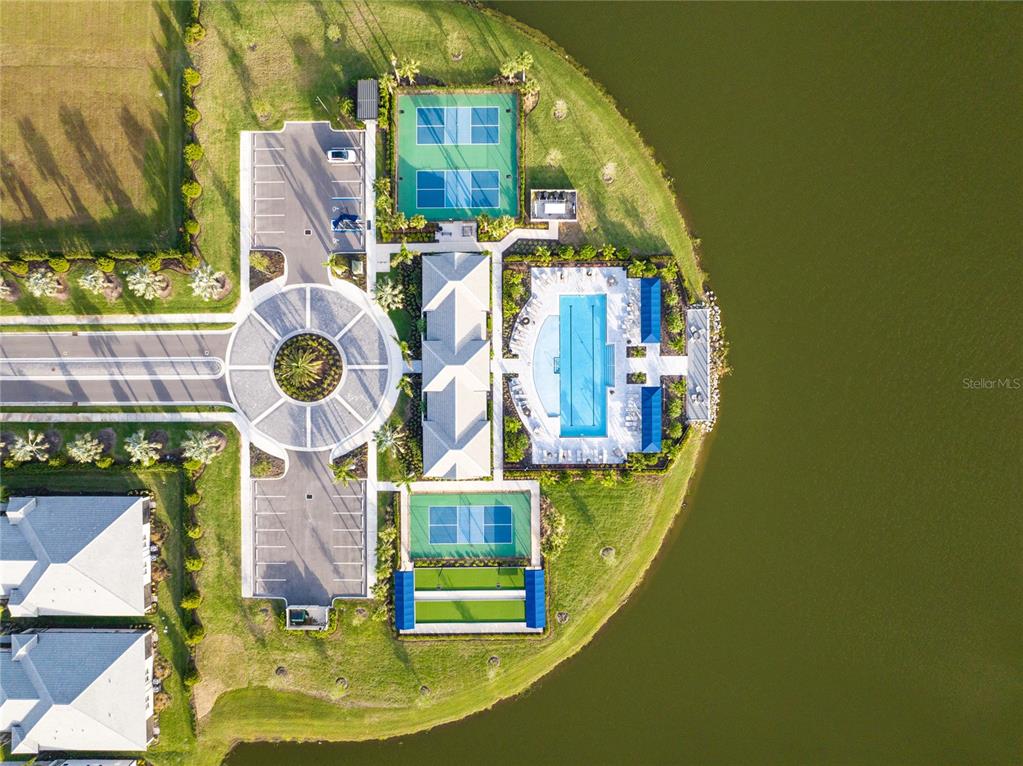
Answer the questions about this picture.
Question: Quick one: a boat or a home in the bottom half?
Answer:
home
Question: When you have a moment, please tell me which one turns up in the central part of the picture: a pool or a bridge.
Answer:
pool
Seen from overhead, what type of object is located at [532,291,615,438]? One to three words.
swimming pool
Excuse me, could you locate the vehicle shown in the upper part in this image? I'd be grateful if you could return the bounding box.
[327,147,356,162]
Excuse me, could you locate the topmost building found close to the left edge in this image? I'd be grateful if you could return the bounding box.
[0,496,150,617]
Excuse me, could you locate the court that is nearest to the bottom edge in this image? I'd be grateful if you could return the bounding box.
[399,567,543,633]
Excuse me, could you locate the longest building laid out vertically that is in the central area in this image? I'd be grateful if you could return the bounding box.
[422,251,491,481]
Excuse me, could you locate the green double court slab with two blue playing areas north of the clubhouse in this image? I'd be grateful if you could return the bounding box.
[397,93,520,223]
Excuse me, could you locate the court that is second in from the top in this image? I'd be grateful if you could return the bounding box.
[409,491,532,560]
